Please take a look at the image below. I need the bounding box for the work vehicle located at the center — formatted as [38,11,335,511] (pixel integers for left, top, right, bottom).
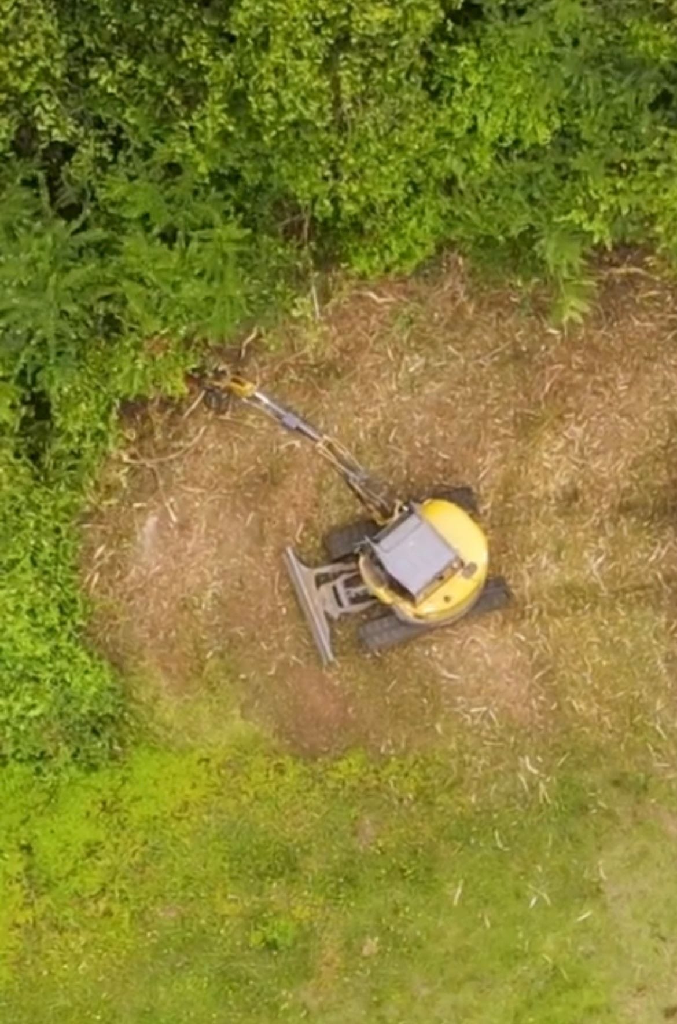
[193,363,513,665]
